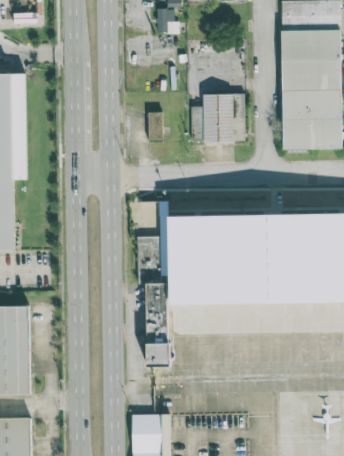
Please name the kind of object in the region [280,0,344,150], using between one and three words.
building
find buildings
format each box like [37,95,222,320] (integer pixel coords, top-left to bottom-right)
[159,201,344,304]
[156,9,180,35]
[0,74,27,253]
[280,0,344,150]
[0,418,32,456]
[131,414,171,456]
[144,283,175,367]
[138,236,158,282]
[0,306,32,396]
[148,112,164,141]
[14,0,42,24]
[129,202,156,228]
[190,94,246,143]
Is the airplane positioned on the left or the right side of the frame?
right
